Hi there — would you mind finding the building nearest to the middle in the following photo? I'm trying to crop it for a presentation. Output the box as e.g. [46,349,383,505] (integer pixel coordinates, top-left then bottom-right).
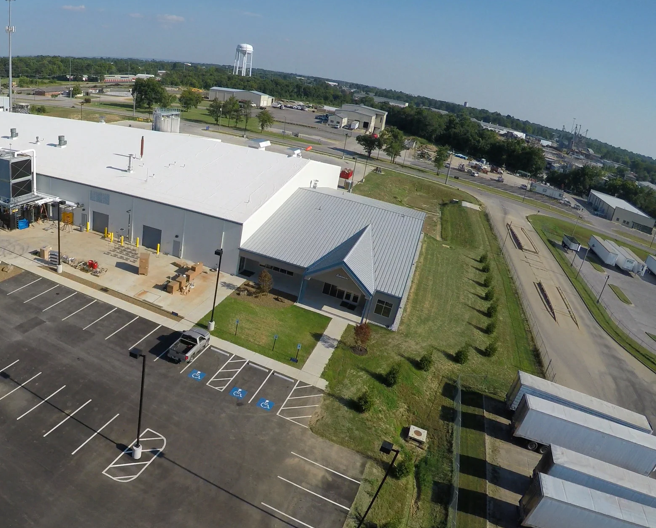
[234,180,426,329]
